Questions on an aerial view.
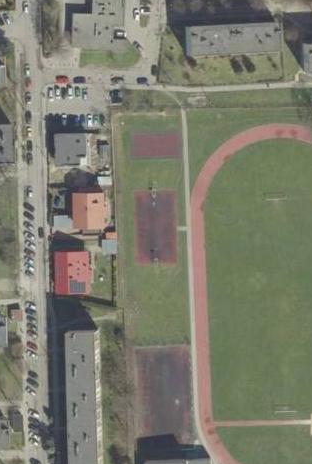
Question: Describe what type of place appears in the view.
sports ground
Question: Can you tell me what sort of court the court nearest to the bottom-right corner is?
basketball court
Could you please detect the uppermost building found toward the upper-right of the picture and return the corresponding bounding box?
[186,22,282,59]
